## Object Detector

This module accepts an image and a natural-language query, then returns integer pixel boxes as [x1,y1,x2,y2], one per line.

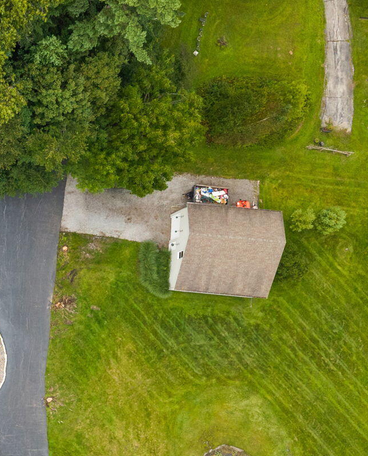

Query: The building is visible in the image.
[166,203,288,304]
